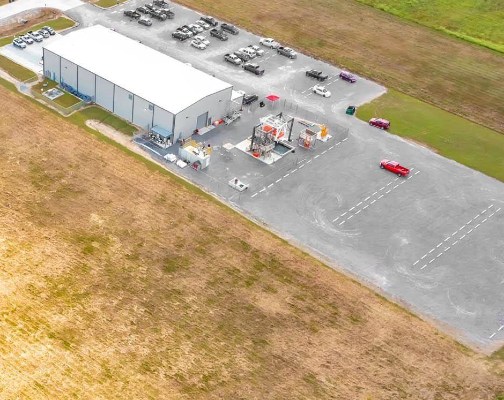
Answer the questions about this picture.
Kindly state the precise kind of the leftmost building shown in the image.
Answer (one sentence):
Looking closely, the leftmost building is a warehouse.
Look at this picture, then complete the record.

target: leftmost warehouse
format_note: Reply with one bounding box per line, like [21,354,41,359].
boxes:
[39,22,233,144]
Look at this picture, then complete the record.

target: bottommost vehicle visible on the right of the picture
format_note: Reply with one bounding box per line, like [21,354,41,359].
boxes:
[379,160,410,178]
